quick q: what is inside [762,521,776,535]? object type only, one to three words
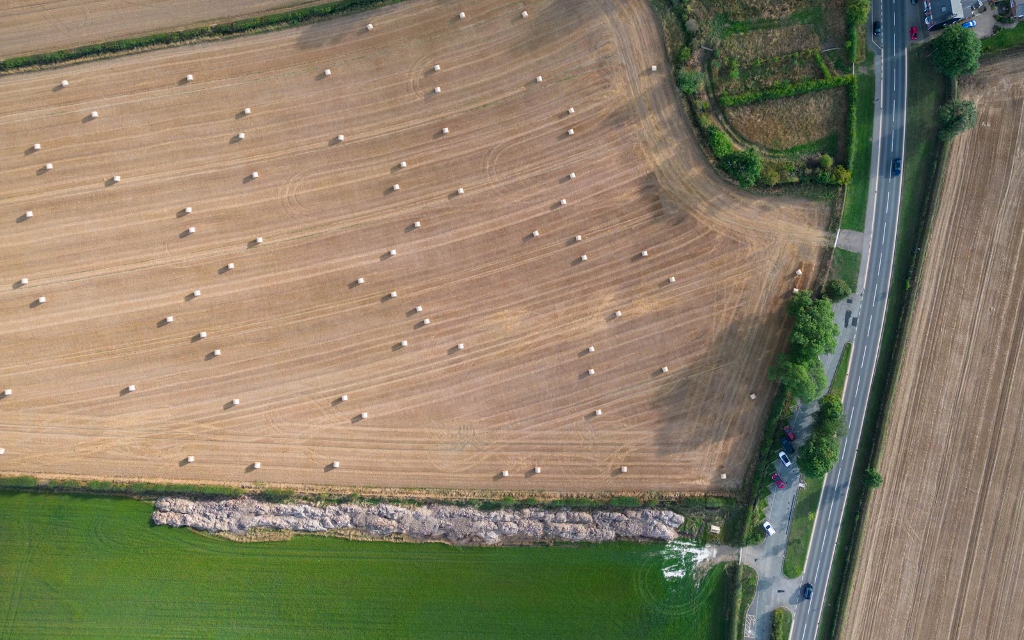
car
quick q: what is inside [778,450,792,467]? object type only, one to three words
car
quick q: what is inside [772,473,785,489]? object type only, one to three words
vehicle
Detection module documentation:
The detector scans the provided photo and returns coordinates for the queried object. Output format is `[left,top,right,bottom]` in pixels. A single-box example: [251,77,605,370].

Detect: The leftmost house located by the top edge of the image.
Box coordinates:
[919,0,977,31]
